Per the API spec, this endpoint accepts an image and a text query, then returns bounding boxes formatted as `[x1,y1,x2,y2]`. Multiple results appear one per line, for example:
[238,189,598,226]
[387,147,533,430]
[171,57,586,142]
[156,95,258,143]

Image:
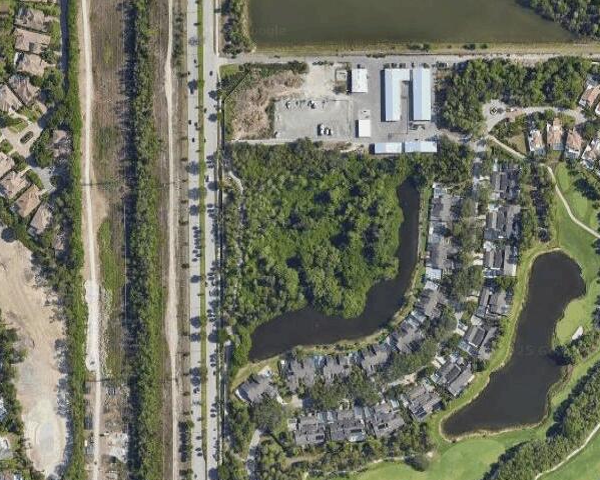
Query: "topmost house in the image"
[20,8,47,26]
